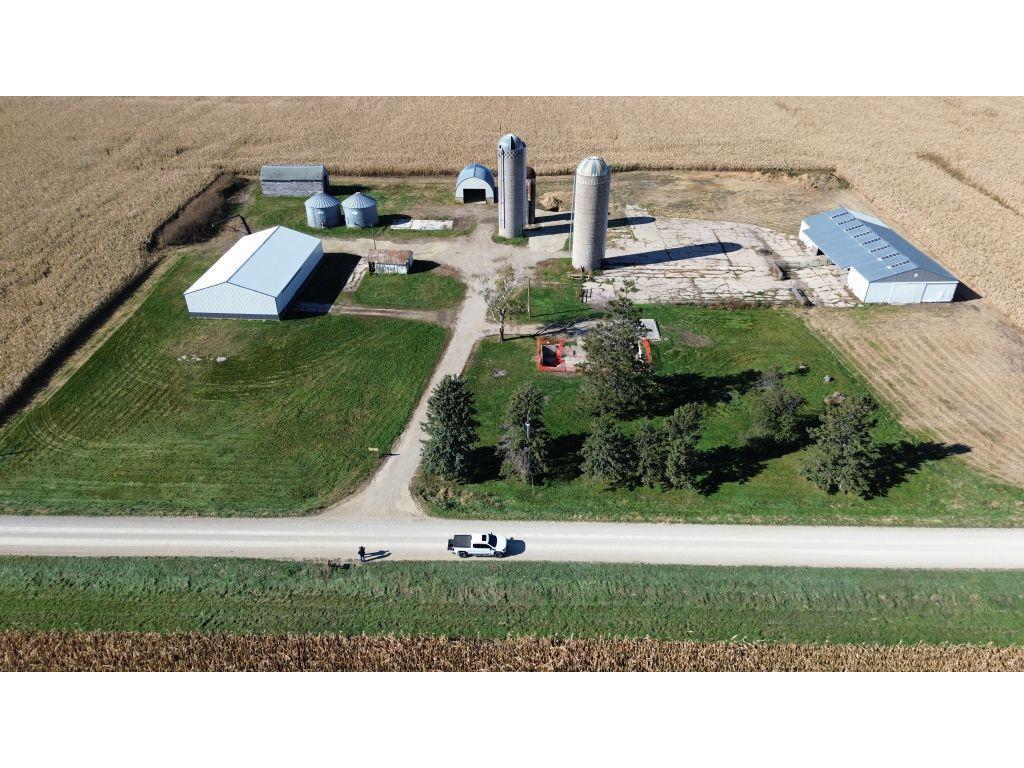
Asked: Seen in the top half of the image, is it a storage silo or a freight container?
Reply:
storage silo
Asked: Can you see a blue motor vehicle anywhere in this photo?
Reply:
No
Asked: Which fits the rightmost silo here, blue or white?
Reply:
white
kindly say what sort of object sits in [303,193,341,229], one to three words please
silo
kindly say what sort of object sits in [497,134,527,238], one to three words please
silo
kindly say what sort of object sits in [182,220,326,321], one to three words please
shed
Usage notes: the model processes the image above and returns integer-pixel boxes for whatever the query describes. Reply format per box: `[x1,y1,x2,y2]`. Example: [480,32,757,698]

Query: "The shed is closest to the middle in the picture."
[368,247,412,274]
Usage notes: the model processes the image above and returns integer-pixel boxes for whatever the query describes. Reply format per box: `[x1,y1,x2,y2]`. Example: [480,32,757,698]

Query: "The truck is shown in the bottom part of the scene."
[448,532,508,559]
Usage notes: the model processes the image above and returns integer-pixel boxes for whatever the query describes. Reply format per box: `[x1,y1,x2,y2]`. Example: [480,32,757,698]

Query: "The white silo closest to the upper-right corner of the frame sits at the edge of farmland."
[569,157,612,272]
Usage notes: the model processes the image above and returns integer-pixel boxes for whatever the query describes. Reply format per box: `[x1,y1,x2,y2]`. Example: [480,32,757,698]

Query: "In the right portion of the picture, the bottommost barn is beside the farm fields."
[801,205,962,302]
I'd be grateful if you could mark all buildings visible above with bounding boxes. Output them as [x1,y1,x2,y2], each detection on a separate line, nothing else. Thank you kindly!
[801,205,962,302]
[258,163,332,195]
[368,247,412,274]
[456,162,495,203]
[182,220,326,321]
